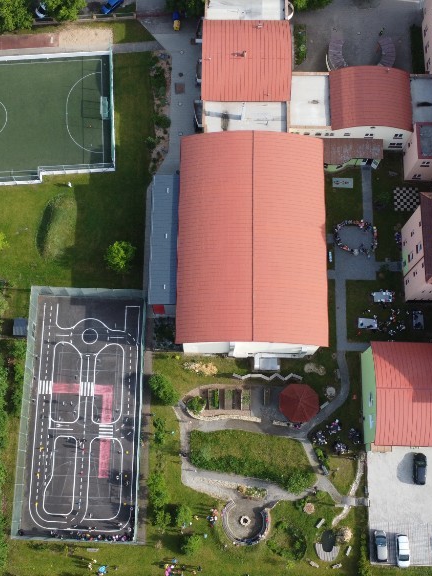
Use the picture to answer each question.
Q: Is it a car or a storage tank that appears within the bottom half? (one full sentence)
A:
Looking within the bottom half, you will find a car.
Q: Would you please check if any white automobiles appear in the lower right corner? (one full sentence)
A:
Yes, a white automobile is visible in the lower right corner.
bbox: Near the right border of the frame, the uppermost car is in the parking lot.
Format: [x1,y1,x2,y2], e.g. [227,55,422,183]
[410,453,428,485]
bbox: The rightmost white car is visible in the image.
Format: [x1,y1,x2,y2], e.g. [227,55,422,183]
[393,534,412,569]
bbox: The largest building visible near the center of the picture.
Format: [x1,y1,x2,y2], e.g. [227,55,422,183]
[175,128,329,374]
